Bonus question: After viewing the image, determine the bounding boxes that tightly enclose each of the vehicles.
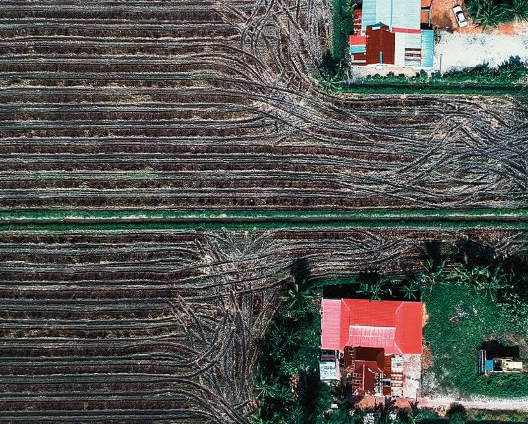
[453,5,467,27]
[476,349,522,376]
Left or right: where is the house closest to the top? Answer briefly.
right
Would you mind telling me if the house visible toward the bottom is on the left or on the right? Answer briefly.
right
